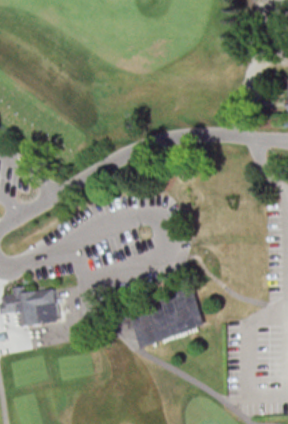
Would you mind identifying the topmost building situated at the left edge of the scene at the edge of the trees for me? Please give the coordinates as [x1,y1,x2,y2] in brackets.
[0,285,68,329]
